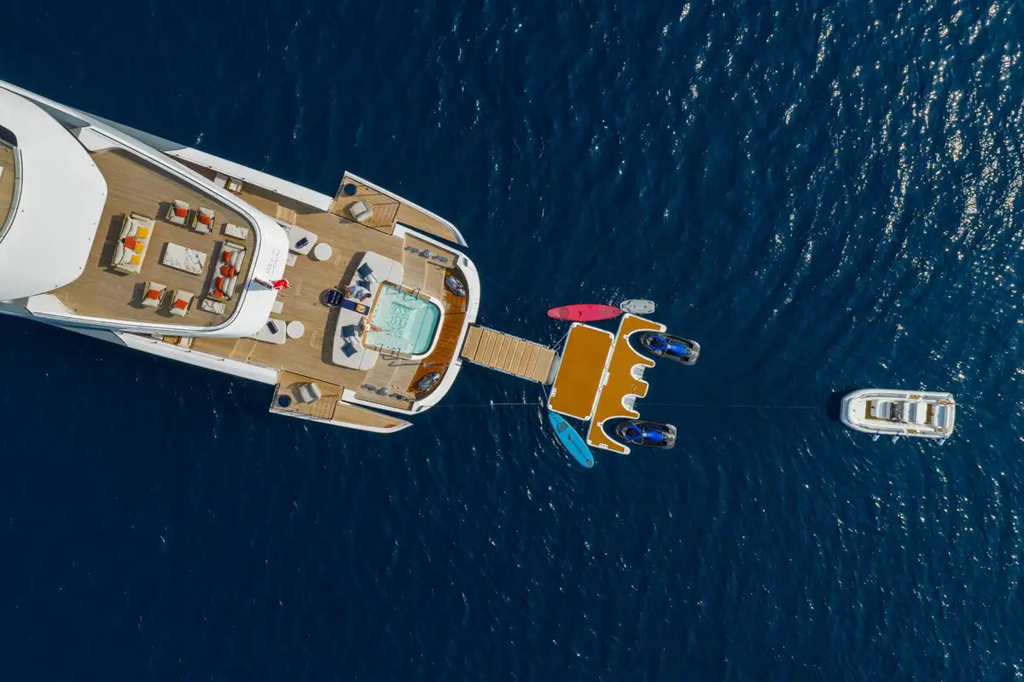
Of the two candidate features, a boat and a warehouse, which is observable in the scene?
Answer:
boat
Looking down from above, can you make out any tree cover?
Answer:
No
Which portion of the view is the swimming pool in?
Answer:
center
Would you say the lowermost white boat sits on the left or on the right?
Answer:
right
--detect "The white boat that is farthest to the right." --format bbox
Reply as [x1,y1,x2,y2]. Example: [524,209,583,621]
[842,387,967,438]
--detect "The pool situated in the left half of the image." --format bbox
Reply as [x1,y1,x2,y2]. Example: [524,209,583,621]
[362,280,445,360]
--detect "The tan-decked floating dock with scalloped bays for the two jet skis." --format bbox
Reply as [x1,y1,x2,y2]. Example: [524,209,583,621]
[587,313,666,454]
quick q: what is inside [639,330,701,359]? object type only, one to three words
boat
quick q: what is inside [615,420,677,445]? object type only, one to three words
boat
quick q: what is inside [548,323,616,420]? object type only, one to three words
pier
